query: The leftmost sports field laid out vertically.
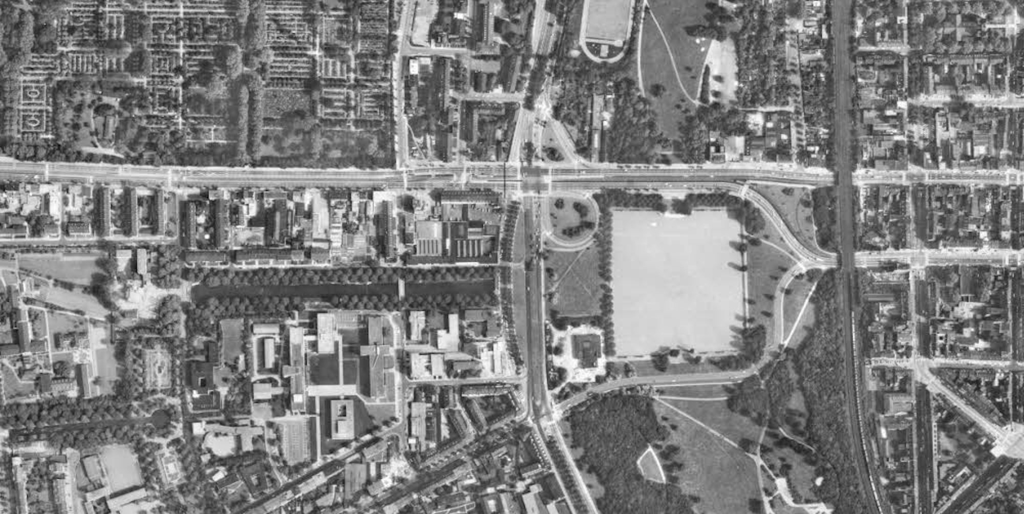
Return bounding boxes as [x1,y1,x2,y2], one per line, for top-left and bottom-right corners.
[92,313,117,398]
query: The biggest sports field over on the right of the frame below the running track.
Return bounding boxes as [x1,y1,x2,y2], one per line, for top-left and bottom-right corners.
[613,207,743,355]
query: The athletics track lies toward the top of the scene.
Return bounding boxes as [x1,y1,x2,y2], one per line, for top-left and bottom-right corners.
[580,0,632,63]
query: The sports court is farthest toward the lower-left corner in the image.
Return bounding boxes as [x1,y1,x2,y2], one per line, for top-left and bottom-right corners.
[81,453,106,483]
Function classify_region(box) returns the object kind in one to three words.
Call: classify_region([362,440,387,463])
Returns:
building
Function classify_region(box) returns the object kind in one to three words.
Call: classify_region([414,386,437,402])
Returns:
house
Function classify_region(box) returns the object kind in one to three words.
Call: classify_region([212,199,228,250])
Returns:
building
